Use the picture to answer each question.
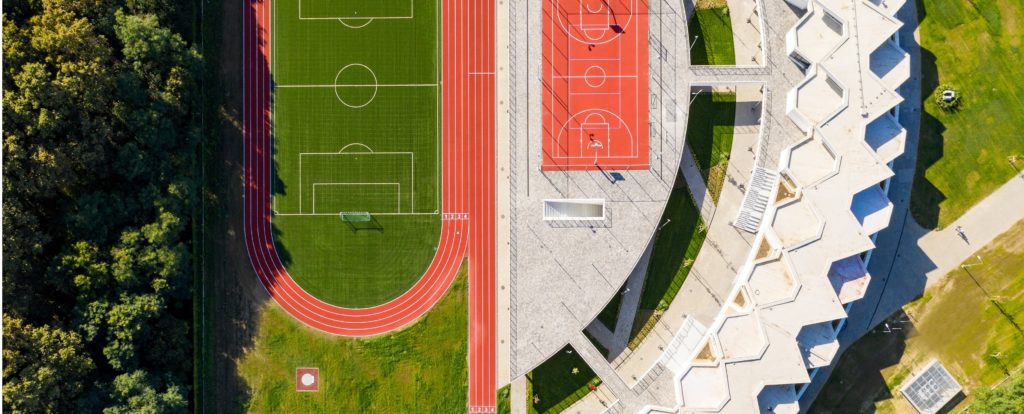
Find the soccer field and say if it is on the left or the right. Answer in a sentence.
It is on the left.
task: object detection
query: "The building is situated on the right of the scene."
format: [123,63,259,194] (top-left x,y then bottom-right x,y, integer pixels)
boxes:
[642,0,910,414]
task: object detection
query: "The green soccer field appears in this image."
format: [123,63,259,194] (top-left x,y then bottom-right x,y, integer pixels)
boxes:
[270,0,442,307]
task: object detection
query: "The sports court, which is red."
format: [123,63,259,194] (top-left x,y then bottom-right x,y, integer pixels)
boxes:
[542,0,650,171]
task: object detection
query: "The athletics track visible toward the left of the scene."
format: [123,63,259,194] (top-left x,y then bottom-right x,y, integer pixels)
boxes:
[242,0,497,414]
